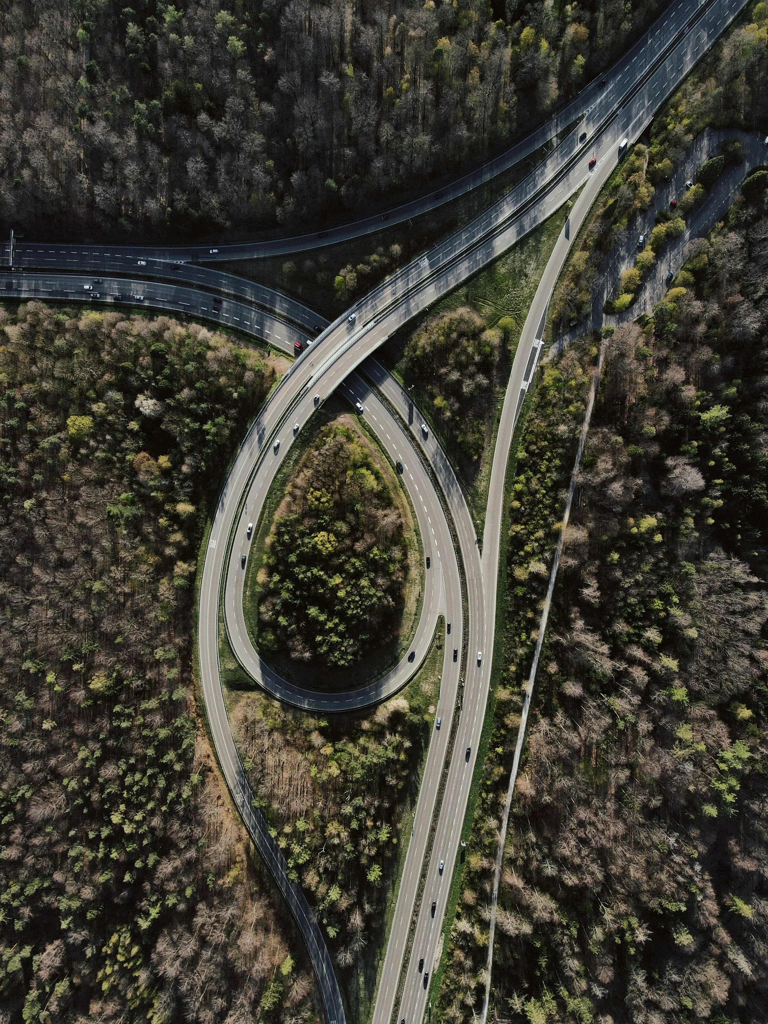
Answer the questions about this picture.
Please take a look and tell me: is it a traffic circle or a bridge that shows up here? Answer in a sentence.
The one in the frame is a bridge.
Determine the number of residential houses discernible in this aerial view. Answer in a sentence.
The picture shows no residential houses.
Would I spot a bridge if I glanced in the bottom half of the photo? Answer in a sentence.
No, I can find no bridge in the bottom half of the photo.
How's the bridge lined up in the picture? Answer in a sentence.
The bridge runs on a diagonal in the image.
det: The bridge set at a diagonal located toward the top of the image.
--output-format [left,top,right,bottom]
[265,286,402,411]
